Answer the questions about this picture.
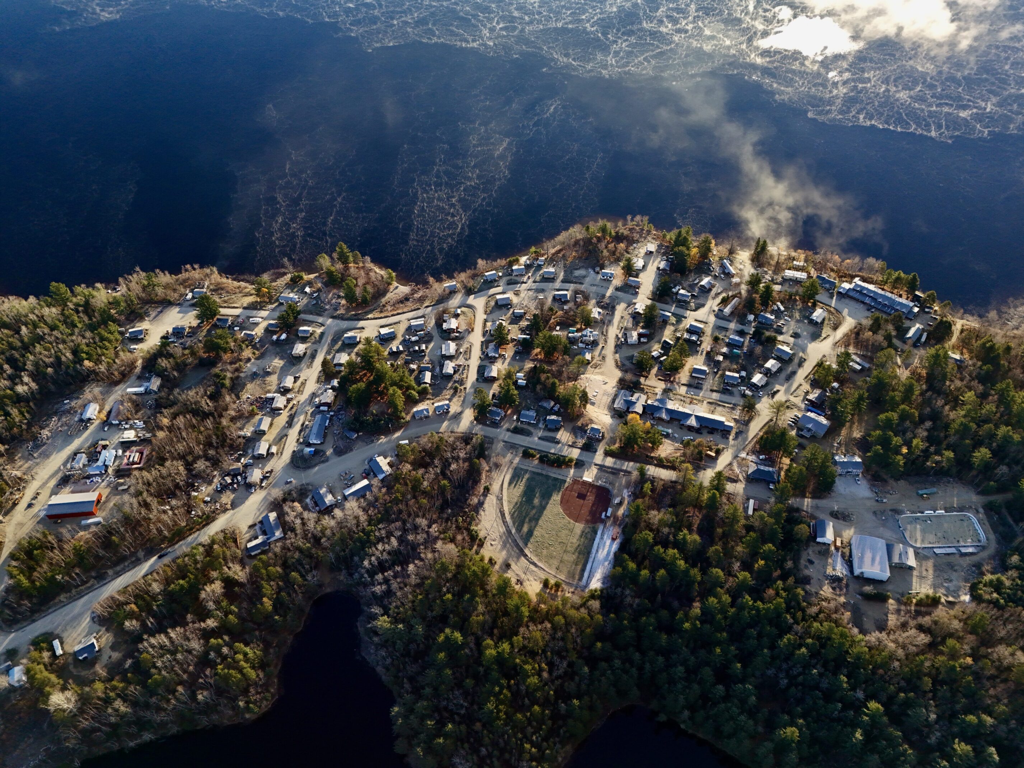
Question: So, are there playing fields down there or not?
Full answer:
Yes, I can see a playing field in this picture.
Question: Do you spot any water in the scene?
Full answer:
Yes, some water is visible.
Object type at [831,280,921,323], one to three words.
building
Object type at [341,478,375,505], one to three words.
house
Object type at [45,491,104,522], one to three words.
barn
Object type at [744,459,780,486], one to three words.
house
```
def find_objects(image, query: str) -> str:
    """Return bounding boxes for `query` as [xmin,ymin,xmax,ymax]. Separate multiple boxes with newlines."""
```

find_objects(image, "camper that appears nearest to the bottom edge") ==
[50,637,62,655]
